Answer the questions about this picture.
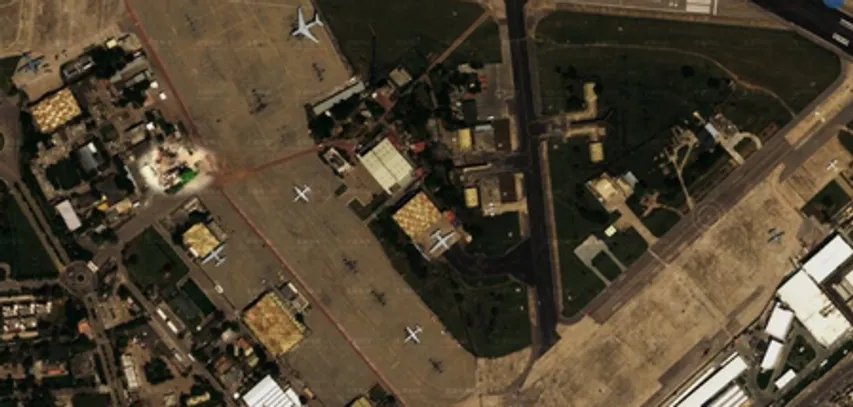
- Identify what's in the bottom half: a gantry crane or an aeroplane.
aeroplane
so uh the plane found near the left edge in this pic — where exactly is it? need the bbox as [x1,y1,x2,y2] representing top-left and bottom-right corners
[17,51,44,73]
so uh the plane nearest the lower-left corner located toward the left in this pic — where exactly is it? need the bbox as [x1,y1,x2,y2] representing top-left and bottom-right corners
[202,245,227,268]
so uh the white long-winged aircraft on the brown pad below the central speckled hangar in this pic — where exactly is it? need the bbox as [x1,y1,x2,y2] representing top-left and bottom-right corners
[428,228,457,252]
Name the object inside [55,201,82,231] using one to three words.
building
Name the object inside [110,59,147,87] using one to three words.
shed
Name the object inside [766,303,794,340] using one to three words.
building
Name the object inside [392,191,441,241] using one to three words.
hangar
